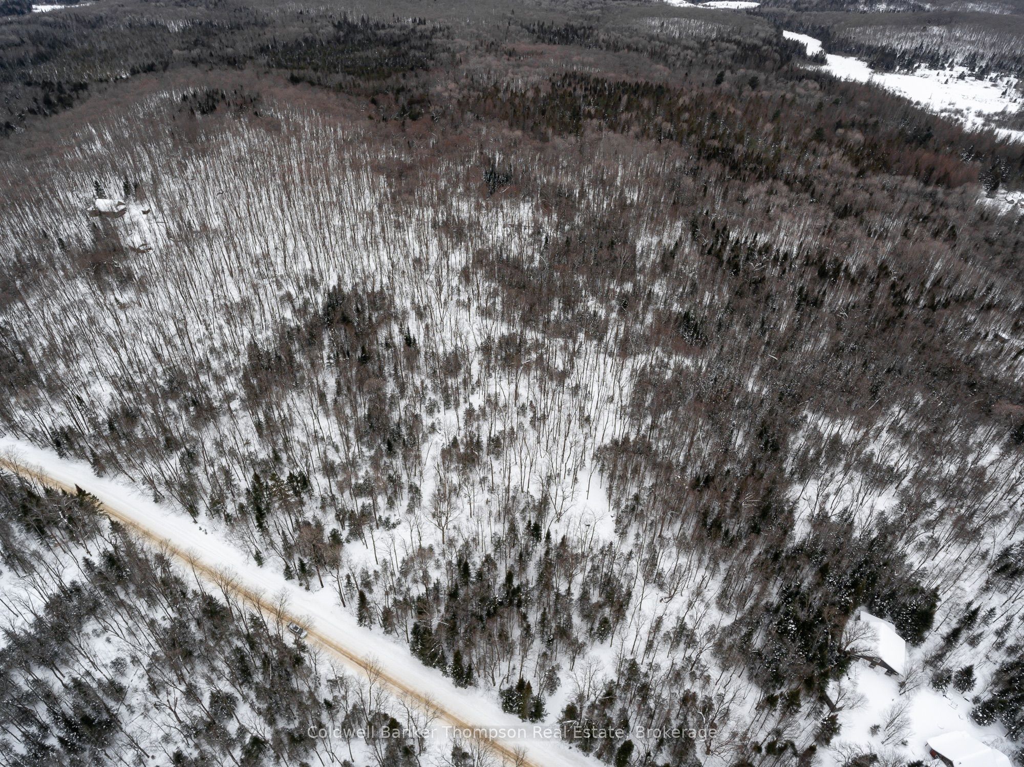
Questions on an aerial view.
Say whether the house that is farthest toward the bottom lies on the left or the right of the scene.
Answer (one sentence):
It is on the right.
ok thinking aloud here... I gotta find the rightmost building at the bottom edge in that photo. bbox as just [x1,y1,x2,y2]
[929,730,1019,767]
